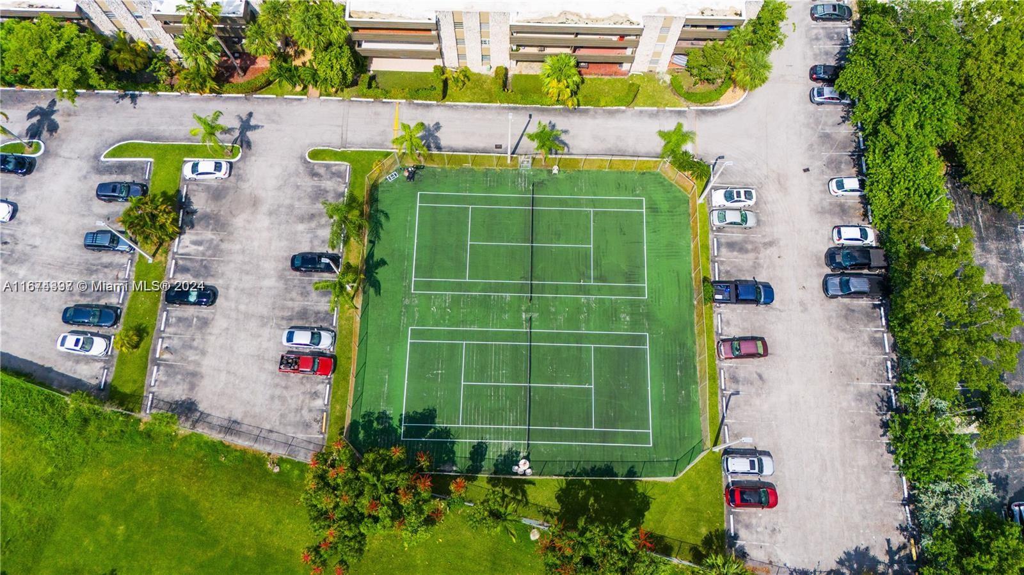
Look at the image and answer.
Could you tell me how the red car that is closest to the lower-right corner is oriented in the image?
from side to side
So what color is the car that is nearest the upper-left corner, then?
black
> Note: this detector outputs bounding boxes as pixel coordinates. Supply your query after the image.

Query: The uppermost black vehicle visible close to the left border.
[0,154,31,176]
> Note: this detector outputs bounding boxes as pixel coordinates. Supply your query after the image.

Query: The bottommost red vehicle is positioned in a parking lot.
[724,485,779,511]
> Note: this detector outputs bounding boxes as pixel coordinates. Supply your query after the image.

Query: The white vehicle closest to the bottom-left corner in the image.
[55,333,113,357]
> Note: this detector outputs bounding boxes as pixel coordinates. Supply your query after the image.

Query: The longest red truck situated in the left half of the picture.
[277,353,335,377]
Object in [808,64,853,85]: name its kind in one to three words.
car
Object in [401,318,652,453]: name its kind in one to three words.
tennis court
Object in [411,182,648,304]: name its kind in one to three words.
tennis court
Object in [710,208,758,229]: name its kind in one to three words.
car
